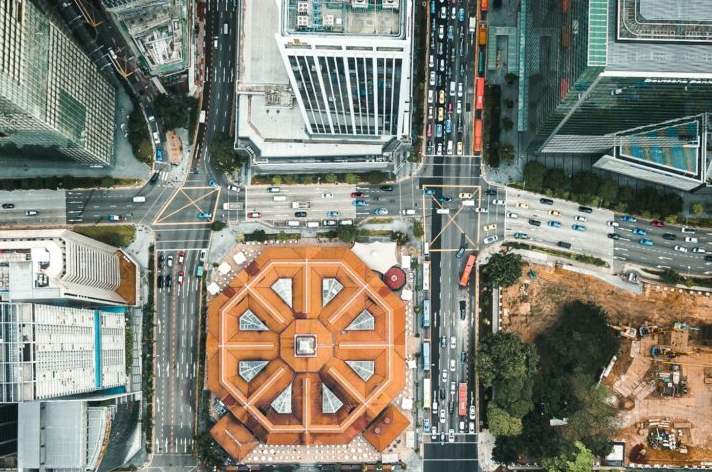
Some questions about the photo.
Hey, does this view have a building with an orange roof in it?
Yes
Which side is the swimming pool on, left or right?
right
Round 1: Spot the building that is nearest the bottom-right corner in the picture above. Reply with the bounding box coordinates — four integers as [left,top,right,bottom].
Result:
[606,442,626,467]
